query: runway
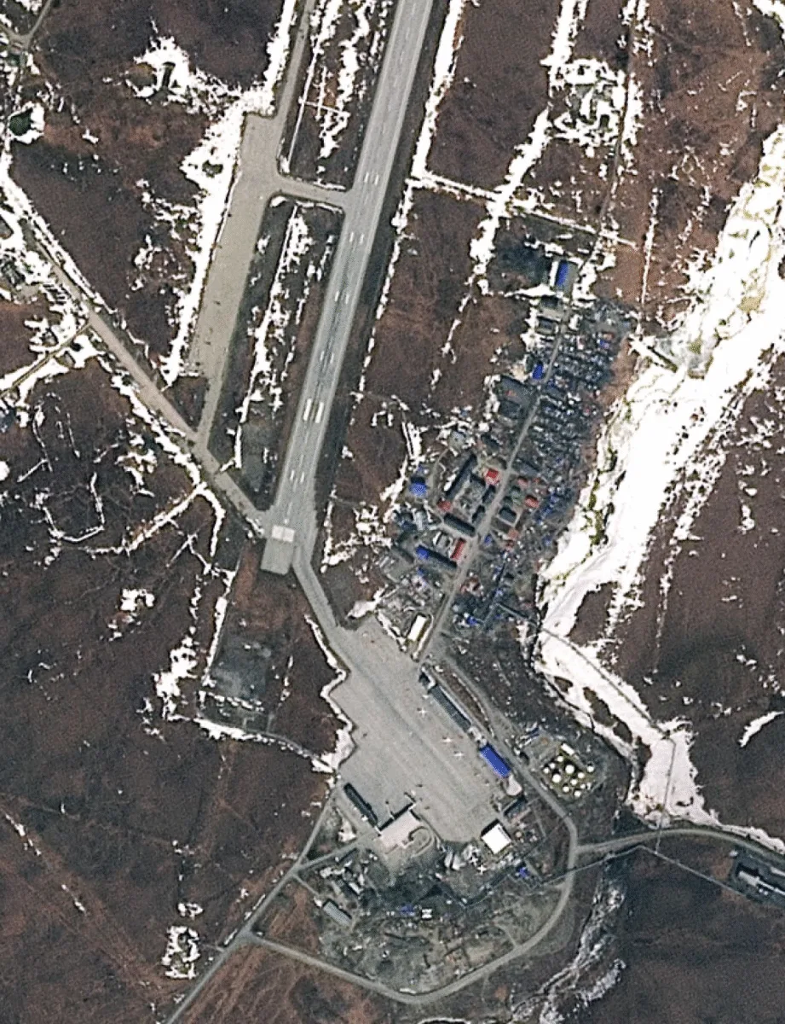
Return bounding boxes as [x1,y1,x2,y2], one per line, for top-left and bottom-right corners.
[268,0,432,540]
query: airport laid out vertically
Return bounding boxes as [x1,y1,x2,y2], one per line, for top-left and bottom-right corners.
[189,0,508,869]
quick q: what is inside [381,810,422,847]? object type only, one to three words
building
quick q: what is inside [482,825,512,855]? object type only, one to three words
hangar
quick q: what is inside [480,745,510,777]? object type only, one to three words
building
